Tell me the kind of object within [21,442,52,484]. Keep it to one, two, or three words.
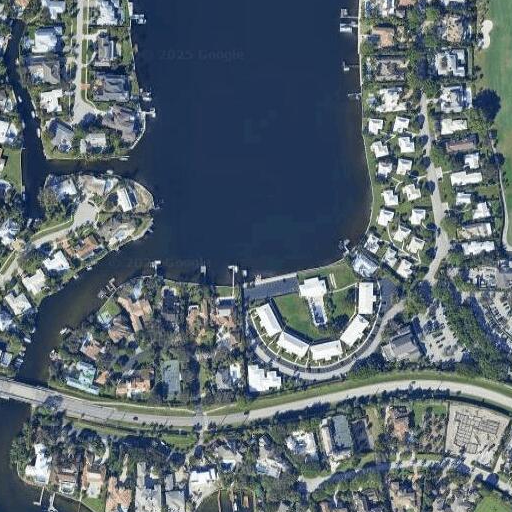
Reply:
house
